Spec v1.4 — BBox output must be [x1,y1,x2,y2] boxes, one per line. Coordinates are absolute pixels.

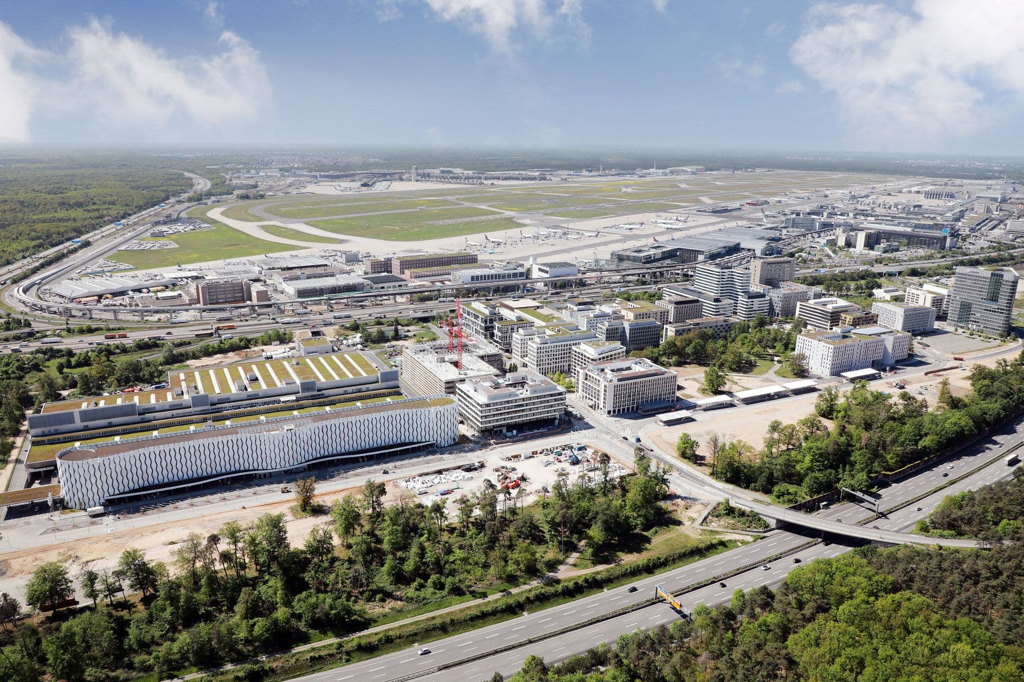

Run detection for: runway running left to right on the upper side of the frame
[240,172,878,226]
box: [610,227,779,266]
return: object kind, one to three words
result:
building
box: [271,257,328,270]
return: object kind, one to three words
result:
building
